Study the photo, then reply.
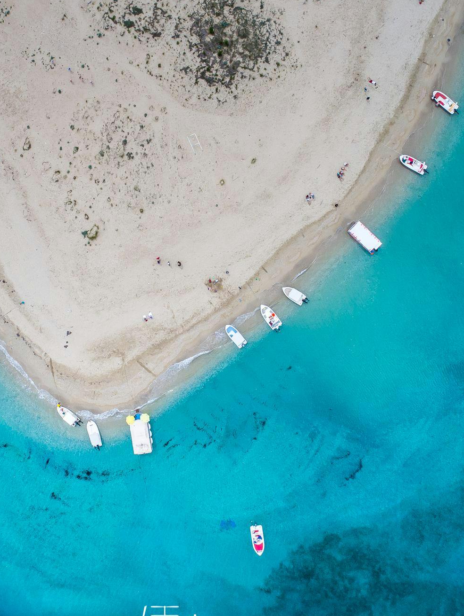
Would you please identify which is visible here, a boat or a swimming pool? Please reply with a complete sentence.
This aerial view contains a boat.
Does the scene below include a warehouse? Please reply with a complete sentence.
No, no warehouse can be seen from above.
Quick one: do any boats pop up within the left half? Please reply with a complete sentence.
Yes, within the left half there is a boat.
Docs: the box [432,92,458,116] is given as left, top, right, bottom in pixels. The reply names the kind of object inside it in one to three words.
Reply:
boat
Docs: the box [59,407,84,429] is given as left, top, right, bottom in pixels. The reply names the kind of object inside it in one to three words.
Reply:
boat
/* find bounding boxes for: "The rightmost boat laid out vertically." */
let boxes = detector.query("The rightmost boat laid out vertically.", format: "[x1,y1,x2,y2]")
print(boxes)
[251,522,264,556]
